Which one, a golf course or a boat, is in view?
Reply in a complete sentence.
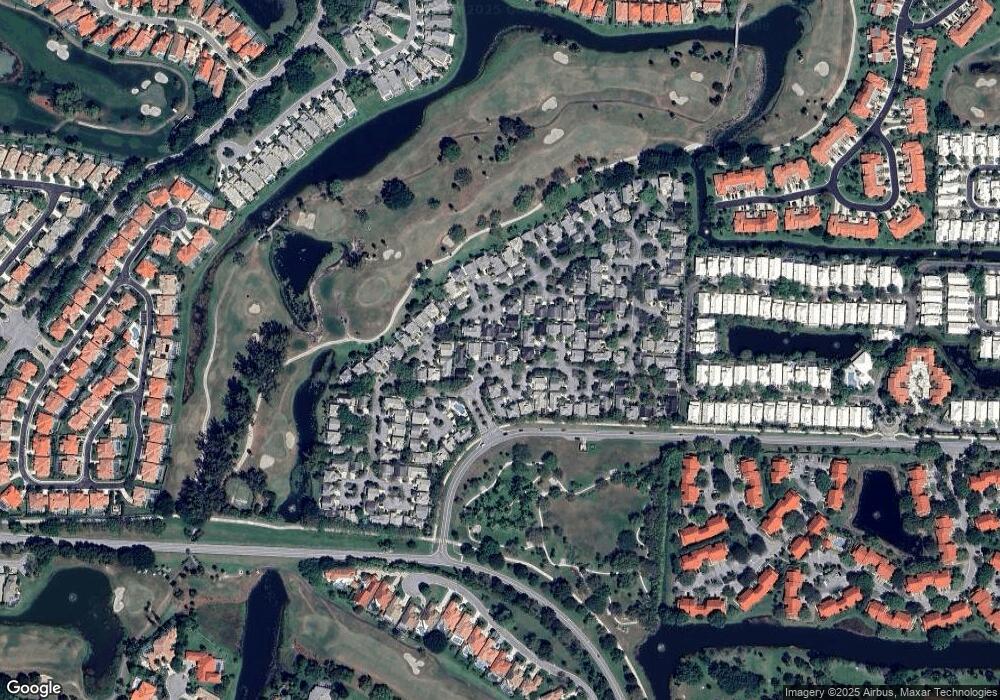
Looking from above, you can make out a golf course.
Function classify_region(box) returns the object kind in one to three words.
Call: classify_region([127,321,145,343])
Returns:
swimming pool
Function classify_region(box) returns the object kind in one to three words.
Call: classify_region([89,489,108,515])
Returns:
house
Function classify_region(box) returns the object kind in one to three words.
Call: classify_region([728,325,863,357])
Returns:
pond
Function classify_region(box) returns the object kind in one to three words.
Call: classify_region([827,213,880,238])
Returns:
building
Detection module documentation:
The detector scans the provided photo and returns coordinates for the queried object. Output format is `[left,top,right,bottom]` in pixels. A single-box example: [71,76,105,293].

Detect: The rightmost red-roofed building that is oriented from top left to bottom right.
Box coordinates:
[971,584,1000,633]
